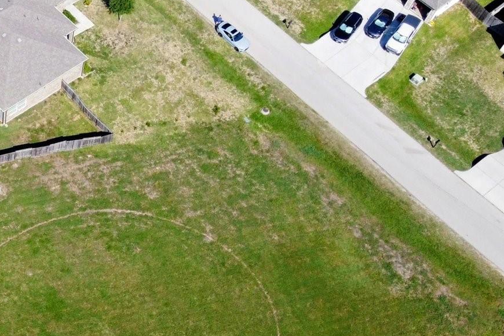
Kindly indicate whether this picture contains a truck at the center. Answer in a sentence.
No, at the center there is no truck.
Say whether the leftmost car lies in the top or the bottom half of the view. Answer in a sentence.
It is in the top half that the leftmost car appears.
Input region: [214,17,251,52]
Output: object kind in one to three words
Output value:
car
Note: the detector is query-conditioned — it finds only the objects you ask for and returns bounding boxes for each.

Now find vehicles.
[331,8,366,44]
[364,6,396,39]
[384,13,424,54]
[214,17,251,52]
